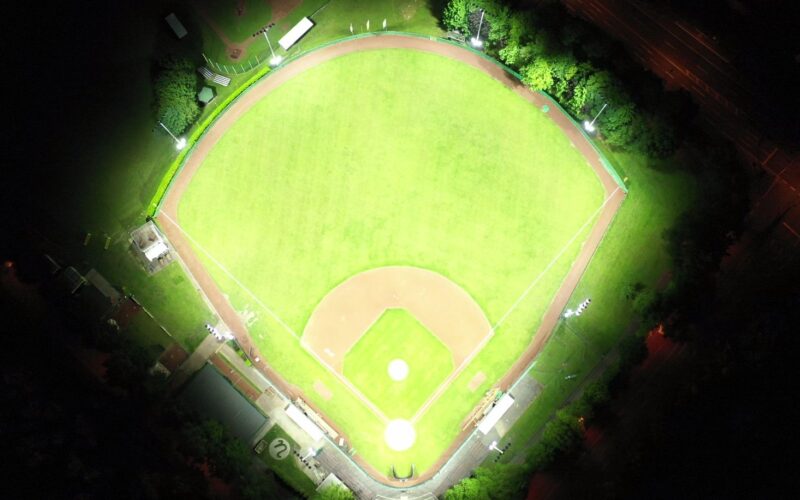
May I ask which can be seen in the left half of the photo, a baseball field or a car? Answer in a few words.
baseball field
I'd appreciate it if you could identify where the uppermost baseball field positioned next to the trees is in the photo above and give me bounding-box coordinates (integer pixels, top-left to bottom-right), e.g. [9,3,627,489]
[195,0,304,62]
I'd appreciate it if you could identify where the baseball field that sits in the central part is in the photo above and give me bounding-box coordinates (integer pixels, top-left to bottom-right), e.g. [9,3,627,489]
[155,33,627,487]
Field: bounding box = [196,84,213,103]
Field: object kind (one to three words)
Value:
gazebo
